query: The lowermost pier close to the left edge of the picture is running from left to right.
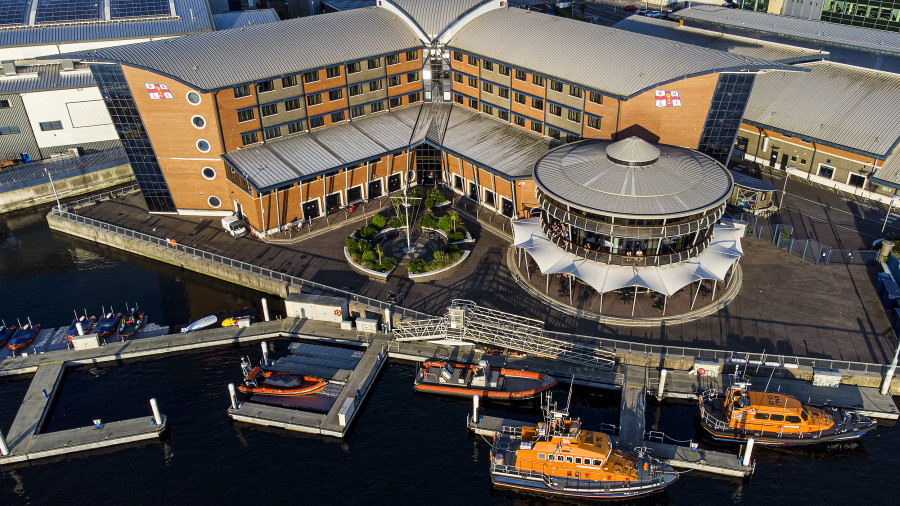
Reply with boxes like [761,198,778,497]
[0,414,169,463]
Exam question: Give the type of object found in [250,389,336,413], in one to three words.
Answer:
pier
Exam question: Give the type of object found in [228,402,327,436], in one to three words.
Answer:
pier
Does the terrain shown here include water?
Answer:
Yes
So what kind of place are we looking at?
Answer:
industrial area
